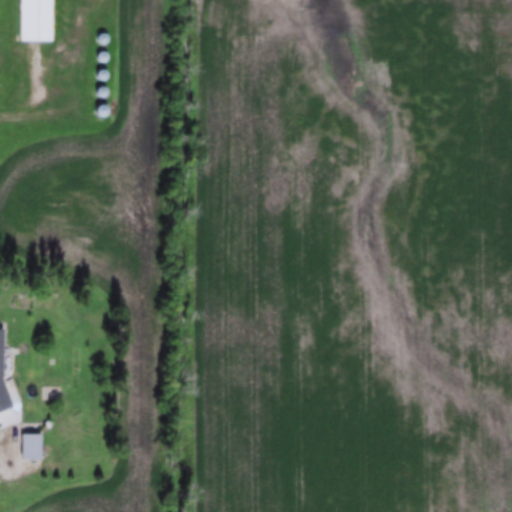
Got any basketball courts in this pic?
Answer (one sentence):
No, I can't see a single basketball court in this photo.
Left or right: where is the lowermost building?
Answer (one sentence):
It is on the left.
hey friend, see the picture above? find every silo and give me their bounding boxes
[96,104,110,118]
[96,32,110,47]
[95,86,110,100]
[95,68,110,82]
[96,50,110,64]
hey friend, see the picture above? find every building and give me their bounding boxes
[20,0,54,42]
[0,332,12,410]
[22,432,44,460]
